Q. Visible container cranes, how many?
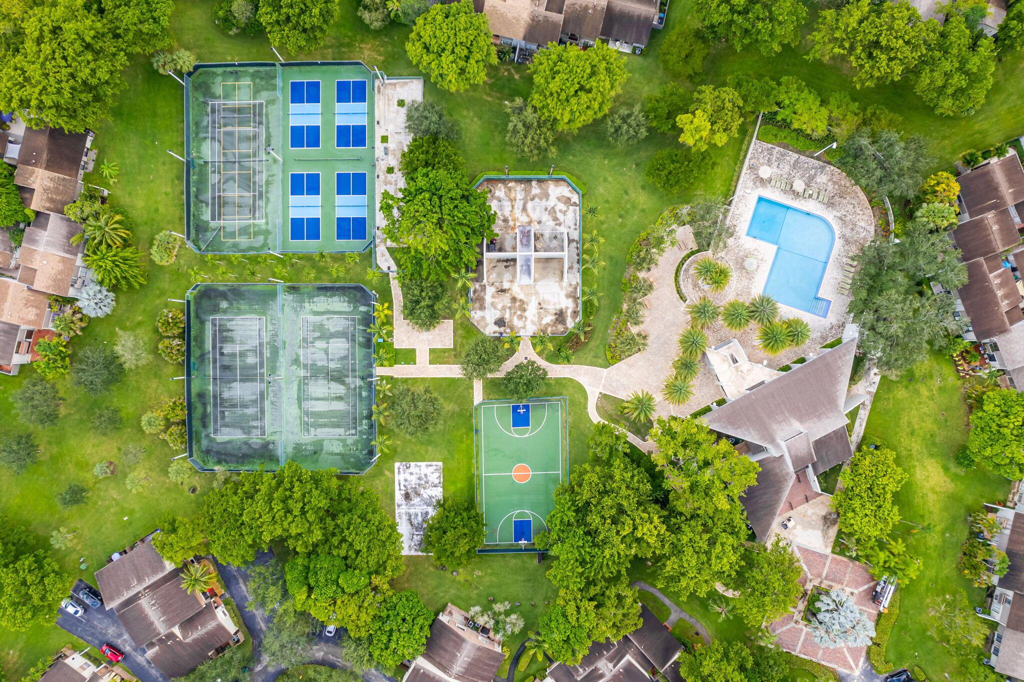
0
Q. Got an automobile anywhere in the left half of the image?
Yes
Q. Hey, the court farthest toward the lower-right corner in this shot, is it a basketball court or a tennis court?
basketball court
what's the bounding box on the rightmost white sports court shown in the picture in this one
[471,179,580,335]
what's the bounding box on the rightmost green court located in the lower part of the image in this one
[479,400,566,548]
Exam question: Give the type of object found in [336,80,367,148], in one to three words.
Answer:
sports court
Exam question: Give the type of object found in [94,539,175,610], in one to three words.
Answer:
house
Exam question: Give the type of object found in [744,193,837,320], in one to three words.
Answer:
swimming pool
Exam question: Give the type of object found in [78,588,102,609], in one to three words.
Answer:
car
